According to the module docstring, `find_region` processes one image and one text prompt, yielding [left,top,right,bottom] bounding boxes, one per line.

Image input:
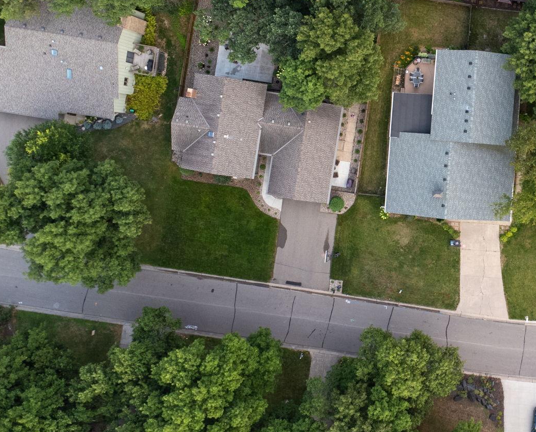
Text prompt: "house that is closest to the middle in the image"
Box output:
[172,74,344,204]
